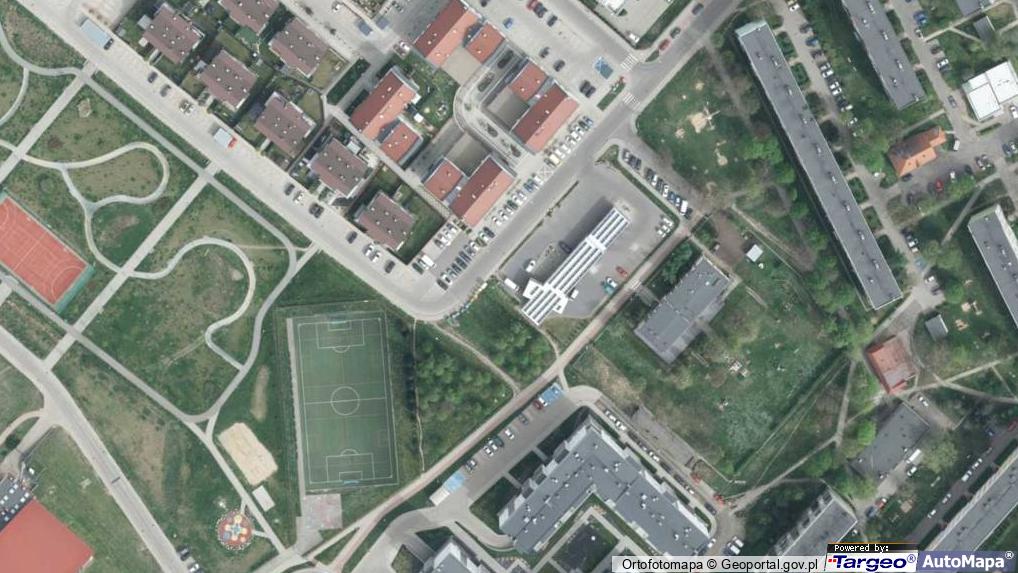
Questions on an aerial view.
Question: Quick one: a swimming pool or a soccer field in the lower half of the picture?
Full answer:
Visible in the lower half of the picture is a soccer field.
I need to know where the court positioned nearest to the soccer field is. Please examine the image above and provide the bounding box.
[218,422,278,485]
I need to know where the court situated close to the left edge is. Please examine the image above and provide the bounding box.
[0,190,94,312]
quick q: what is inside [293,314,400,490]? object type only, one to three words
soccer field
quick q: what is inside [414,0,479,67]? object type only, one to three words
house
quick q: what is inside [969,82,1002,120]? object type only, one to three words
building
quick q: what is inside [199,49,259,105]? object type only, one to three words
house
